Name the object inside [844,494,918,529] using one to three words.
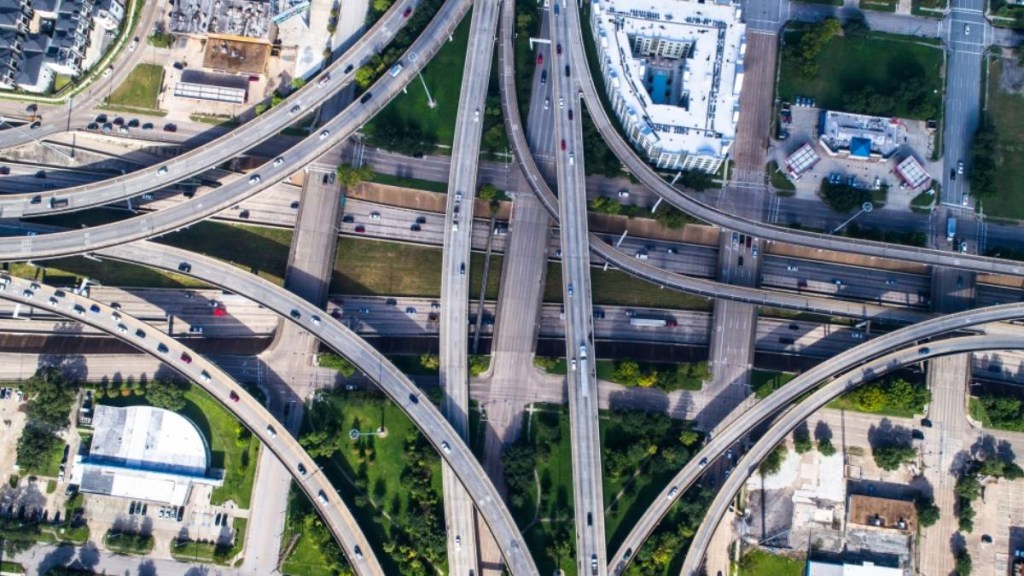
building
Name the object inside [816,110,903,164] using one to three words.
gas station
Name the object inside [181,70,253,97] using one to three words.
shed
